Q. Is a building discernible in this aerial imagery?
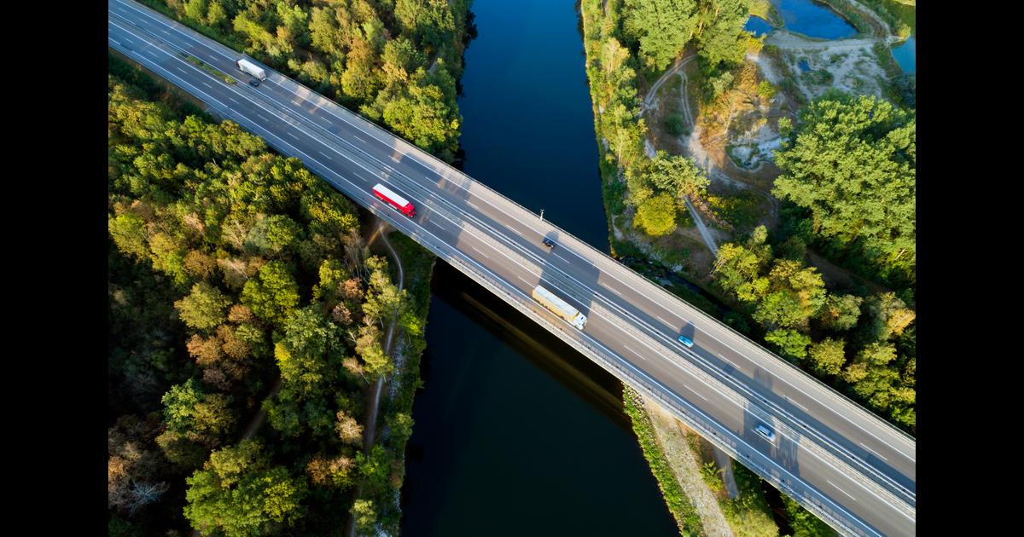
No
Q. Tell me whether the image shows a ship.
No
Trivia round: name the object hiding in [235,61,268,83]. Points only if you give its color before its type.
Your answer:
white truck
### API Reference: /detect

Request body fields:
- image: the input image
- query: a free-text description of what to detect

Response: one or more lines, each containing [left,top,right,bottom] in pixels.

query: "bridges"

[215,74,1024,537]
